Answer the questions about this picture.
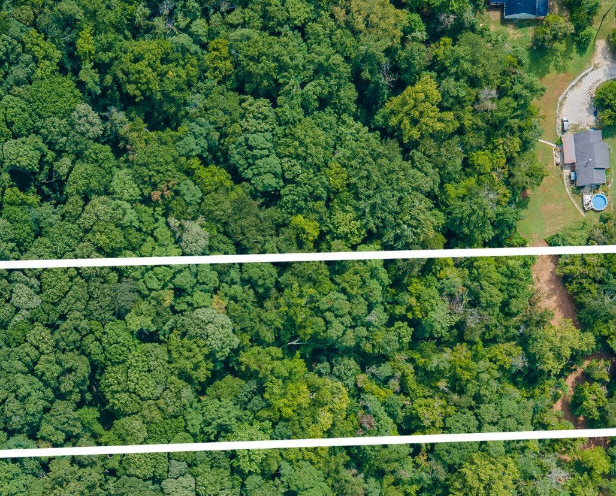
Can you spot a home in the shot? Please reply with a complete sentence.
Yes, this view includes a home.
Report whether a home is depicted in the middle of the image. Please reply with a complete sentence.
No, looking in the middle of the image, there is no home.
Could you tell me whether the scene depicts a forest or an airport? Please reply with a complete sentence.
What you see here is a forest.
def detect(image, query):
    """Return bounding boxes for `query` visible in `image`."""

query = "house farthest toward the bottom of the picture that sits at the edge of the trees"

[562,131,610,187]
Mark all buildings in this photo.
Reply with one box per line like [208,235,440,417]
[562,131,610,187]
[497,0,549,20]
